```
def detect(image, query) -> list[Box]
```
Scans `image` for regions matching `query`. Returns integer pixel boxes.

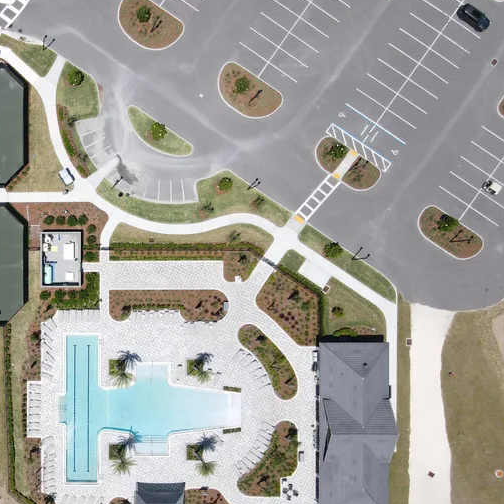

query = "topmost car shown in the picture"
[457,4,488,32]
